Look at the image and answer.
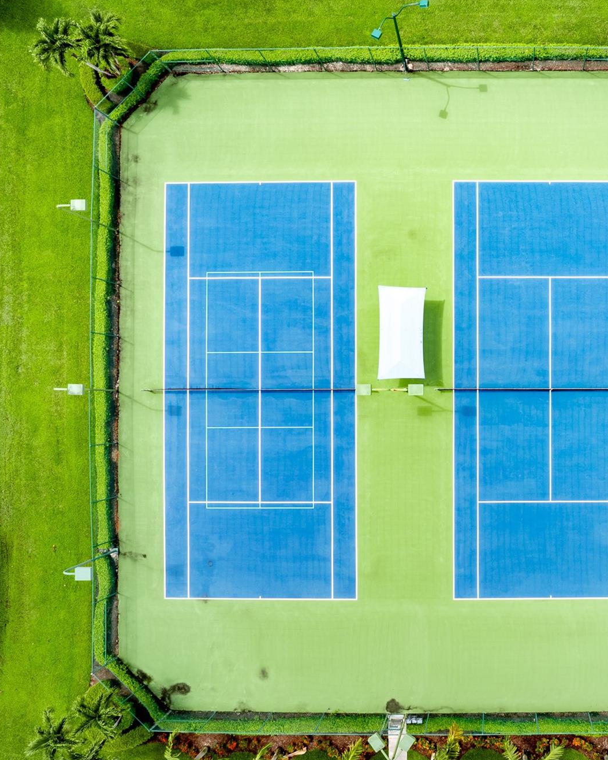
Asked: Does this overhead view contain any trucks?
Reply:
No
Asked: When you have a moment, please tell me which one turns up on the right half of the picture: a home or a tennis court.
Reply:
tennis court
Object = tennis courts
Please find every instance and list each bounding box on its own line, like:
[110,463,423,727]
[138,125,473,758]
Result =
[453,181,608,599]
[164,182,356,600]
